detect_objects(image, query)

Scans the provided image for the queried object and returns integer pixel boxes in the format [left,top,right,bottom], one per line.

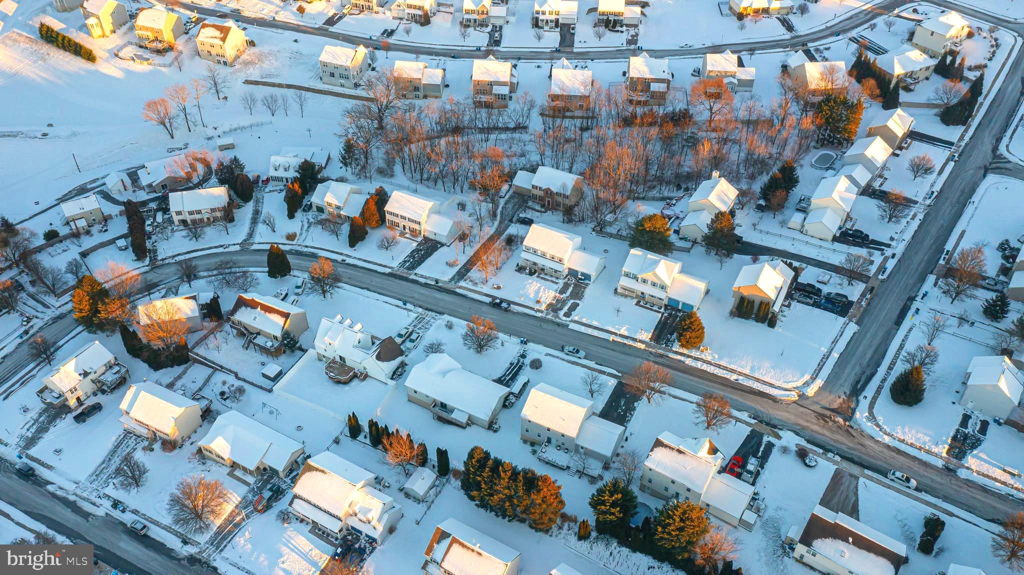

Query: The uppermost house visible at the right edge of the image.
[911,14,978,59]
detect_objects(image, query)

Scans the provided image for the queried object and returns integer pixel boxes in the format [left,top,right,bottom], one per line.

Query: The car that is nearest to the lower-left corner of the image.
[11,457,37,475]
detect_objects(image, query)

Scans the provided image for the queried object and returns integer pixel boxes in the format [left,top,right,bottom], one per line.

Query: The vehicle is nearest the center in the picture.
[489,297,514,312]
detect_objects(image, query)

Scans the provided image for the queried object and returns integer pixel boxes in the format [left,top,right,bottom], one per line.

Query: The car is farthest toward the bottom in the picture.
[122,519,150,537]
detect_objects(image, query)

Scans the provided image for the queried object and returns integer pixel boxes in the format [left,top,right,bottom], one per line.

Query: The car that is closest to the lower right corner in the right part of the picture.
[889,470,918,488]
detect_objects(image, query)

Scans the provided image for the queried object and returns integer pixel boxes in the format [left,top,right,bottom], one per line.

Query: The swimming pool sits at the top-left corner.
[131,50,151,63]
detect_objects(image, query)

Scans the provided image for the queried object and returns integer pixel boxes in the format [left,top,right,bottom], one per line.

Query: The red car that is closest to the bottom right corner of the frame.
[727,454,745,475]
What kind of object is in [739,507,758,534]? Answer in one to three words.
shed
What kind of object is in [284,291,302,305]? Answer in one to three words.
car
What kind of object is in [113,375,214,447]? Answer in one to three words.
house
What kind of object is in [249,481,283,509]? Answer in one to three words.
truck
